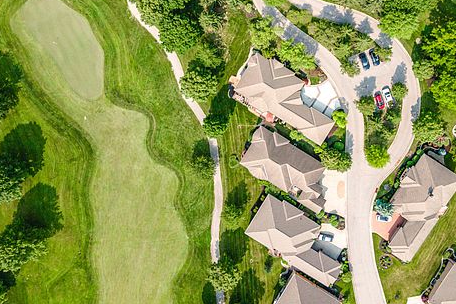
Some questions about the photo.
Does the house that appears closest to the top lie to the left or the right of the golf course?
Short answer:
right of it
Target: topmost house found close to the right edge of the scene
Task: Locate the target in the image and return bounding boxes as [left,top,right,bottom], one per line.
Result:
[389,153,456,260]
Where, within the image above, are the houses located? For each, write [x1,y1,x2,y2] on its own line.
[430,260,456,304]
[273,270,342,304]
[237,125,326,216]
[245,194,343,285]
[389,153,456,260]
[234,52,335,145]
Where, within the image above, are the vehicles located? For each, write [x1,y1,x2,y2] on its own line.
[318,232,334,242]
[374,92,385,109]
[369,47,382,66]
[358,52,370,70]
[382,87,394,105]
